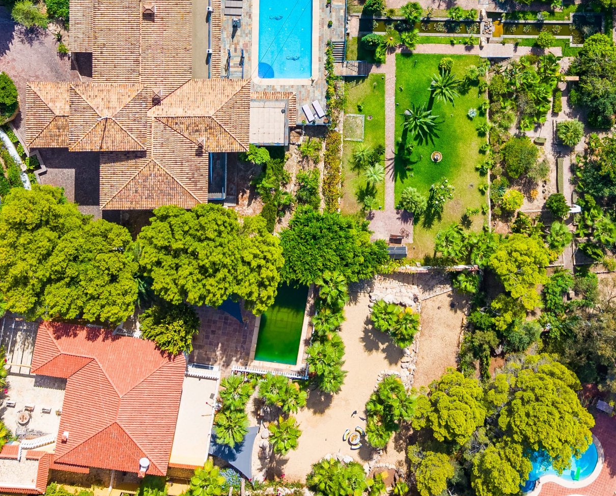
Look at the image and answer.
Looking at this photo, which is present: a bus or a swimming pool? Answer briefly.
swimming pool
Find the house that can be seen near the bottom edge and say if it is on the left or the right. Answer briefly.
left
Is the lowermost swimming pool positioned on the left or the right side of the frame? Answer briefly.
right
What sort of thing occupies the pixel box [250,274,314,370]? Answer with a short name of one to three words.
swimming pool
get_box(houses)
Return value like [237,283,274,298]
[24,0,296,210]
[30,318,223,496]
